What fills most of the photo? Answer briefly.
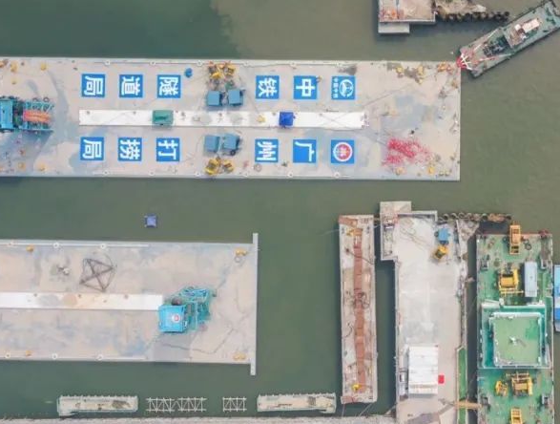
water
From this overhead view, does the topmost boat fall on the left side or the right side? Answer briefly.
right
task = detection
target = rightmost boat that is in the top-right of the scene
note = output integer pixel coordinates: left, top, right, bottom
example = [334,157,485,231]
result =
[459,1,560,77]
